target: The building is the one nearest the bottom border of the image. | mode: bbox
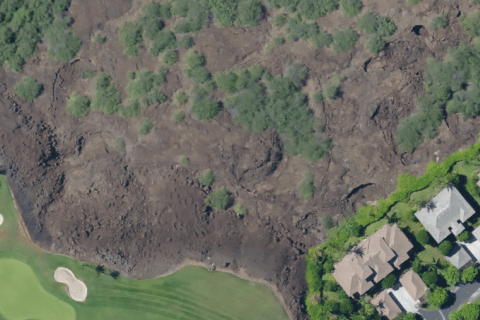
[371,289,403,320]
